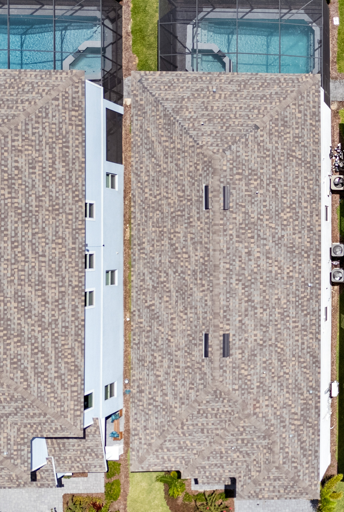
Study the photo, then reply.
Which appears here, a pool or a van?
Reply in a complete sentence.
This aerial view contains a pool.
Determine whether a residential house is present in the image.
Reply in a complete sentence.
Yes, there is a residential house in the image.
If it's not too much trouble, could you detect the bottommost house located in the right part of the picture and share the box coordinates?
[131,72,334,499]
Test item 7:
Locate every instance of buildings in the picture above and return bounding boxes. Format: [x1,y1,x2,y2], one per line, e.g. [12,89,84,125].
[0,70,124,488]
[131,72,334,499]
